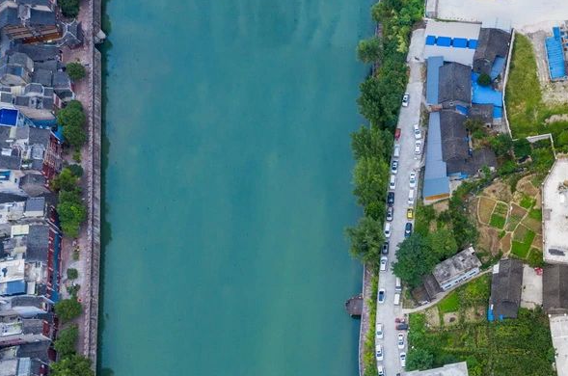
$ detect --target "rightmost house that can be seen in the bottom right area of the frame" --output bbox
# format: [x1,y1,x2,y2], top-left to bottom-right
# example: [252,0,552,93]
[543,262,568,318]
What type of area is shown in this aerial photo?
residential area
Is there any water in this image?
Yes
